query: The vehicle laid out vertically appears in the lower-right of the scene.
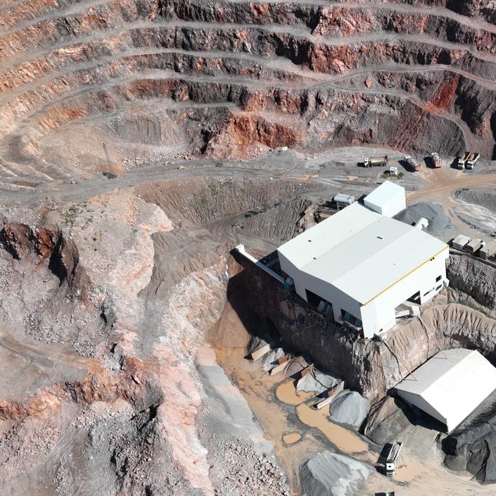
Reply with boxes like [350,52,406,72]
[386,442,403,478]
